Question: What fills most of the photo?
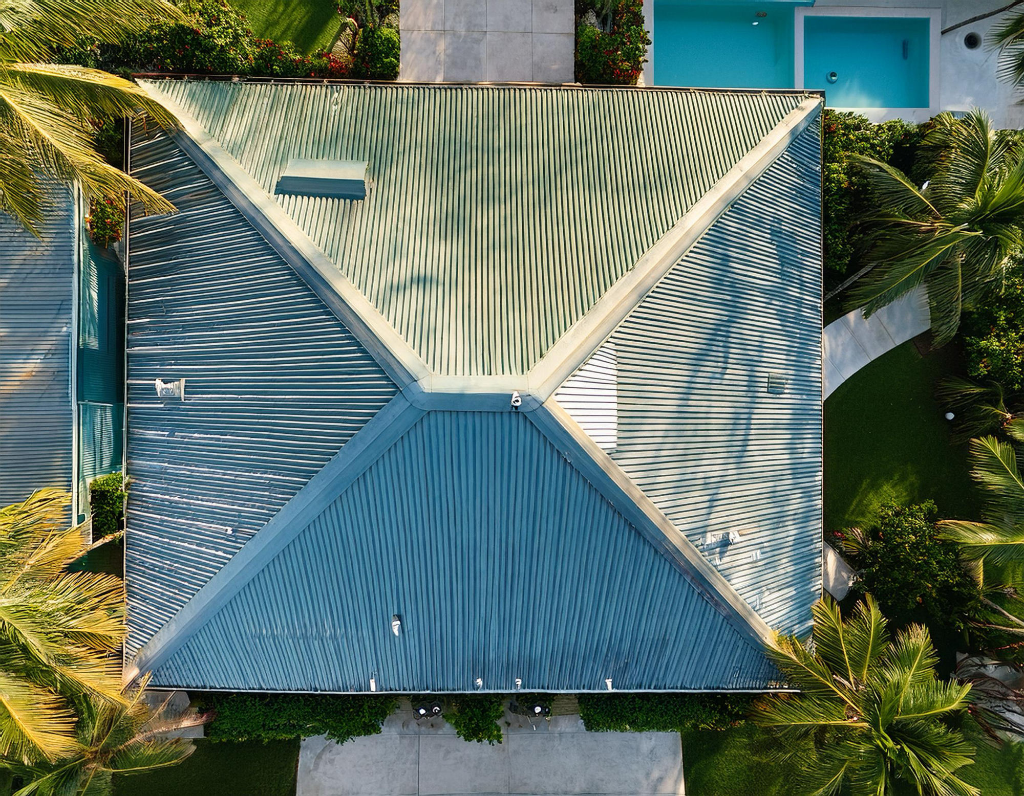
buildings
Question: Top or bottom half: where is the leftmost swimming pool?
top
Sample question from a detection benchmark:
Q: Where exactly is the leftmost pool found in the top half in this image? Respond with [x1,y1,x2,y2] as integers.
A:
[646,0,800,88]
